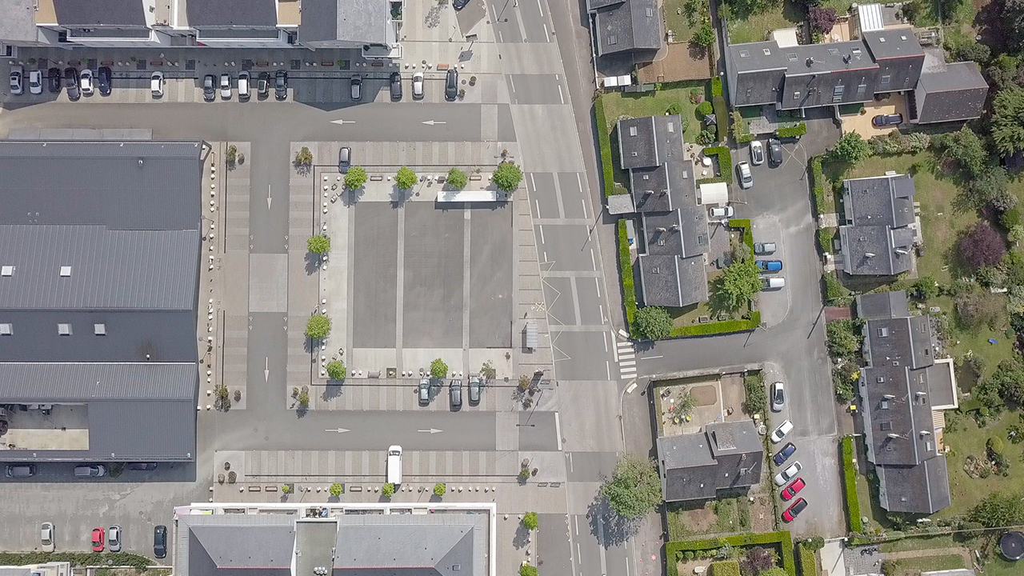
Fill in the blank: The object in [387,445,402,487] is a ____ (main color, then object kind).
white vehicle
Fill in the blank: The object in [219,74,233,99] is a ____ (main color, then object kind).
white car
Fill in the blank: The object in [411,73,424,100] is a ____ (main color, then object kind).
white vehicle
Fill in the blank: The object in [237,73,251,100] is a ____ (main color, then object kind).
white car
